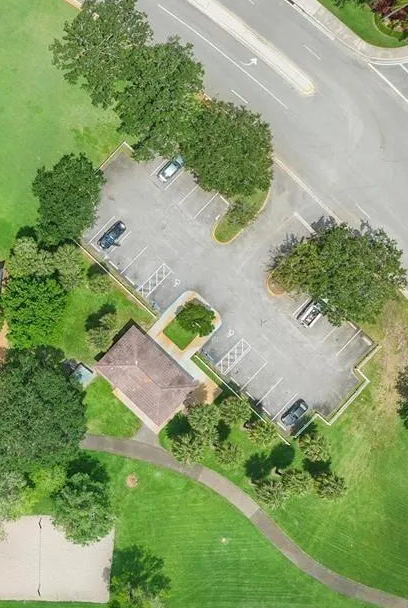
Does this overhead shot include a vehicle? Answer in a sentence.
Yes, a vehicle can be made out from above.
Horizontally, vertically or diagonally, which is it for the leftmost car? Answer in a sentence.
From this overhead view, the leftmost car appears to run diagonally.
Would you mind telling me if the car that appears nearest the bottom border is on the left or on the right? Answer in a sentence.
The car that appears nearest the bottom border is on the right side of the image.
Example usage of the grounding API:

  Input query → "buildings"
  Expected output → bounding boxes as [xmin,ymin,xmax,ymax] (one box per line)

[69,364,92,384]
[96,325,199,430]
